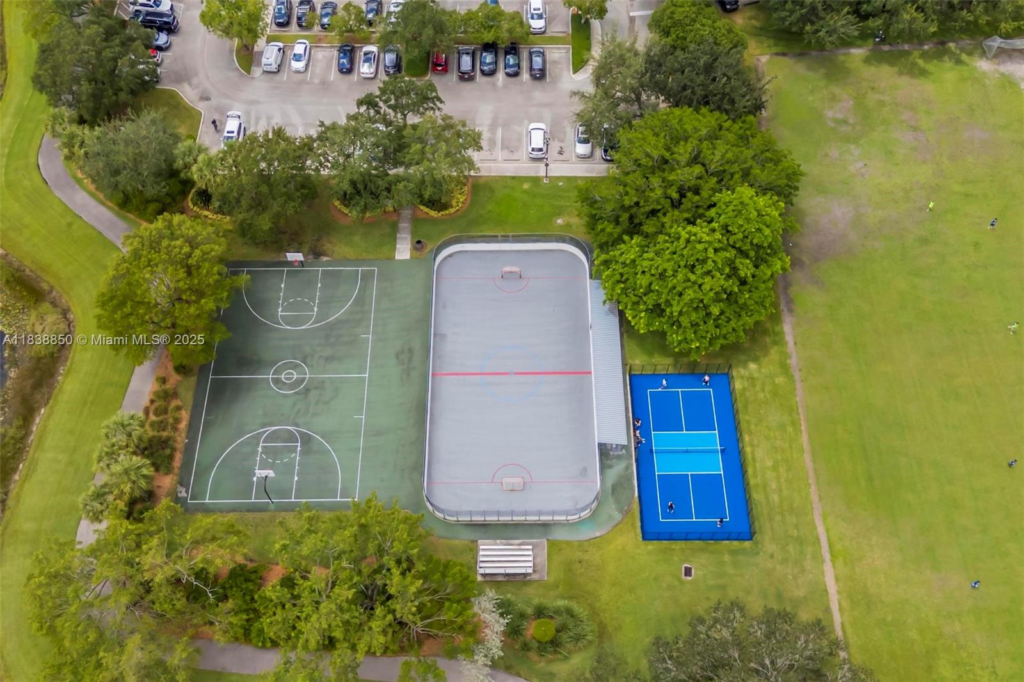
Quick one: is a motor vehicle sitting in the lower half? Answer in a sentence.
No, I can find no motor vehicle in the lower half.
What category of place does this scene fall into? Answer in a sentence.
What you see here is a sports ground.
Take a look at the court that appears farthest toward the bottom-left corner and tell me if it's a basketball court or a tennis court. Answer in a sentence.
The court that appears farthest toward the bottom-left corner can be classified as a basketball court.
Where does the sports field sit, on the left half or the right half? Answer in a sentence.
The sports field sits on the right side.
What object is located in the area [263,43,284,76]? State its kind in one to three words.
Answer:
vehicle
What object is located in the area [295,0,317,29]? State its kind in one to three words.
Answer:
car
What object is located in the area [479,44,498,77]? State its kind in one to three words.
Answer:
car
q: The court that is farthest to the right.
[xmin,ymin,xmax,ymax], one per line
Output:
[629,373,752,540]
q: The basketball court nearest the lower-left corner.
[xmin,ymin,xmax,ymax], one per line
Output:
[176,260,395,514]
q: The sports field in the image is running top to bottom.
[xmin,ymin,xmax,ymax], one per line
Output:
[763,42,1024,682]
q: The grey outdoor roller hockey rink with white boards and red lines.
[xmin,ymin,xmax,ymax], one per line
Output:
[421,232,603,523]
